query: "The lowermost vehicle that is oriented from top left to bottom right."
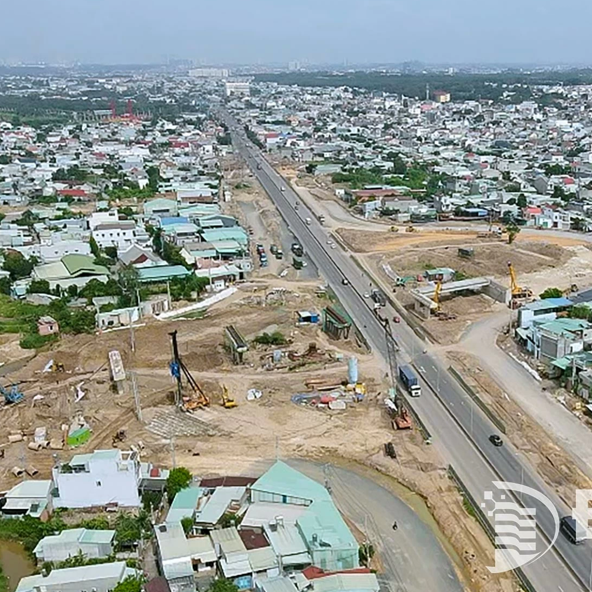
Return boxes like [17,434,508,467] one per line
[556,512,585,543]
